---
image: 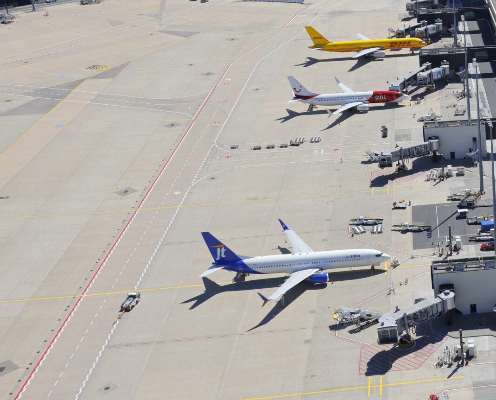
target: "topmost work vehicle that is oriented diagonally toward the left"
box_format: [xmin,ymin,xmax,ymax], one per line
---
[115,288,145,310]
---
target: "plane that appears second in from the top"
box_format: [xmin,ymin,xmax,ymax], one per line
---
[290,74,409,111]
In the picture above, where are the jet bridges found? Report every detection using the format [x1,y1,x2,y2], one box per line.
[385,60,437,93]
[415,59,465,90]
[402,0,437,15]
[372,286,457,355]
[393,19,429,37]
[373,136,440,172]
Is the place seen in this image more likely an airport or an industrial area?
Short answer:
airport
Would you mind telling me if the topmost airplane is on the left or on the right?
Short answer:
right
